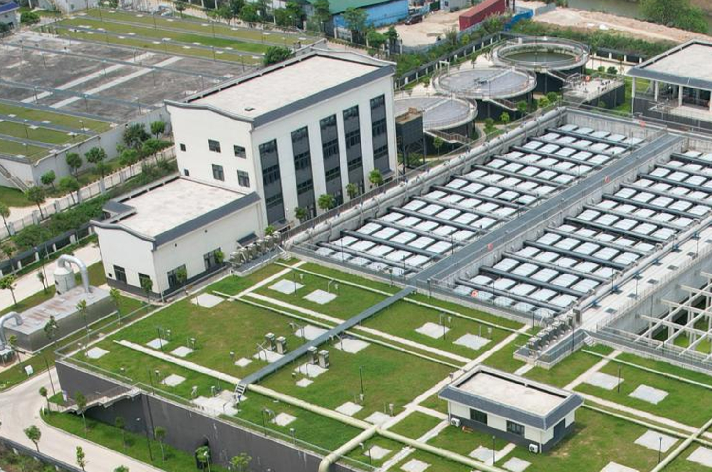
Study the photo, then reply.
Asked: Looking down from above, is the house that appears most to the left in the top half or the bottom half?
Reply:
top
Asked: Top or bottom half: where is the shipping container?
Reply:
top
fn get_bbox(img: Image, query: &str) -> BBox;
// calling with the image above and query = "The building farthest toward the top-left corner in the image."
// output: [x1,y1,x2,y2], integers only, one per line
[0,4,20,32]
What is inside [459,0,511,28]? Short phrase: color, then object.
red shipping container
